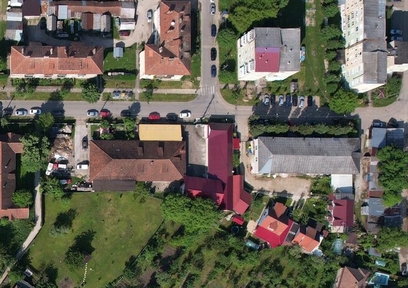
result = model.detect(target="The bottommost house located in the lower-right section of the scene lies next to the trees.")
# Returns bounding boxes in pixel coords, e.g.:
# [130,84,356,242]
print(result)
[332,265,371,288]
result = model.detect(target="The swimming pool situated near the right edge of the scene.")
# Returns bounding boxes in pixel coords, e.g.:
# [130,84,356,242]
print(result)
[371,273,391,286]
